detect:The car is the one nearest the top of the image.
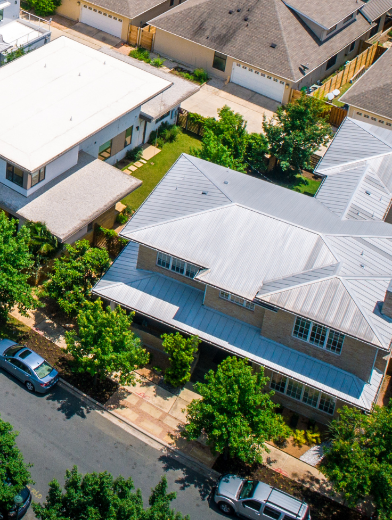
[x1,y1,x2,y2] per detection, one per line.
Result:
[0,341,62,399]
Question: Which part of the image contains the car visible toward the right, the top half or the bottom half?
bottom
